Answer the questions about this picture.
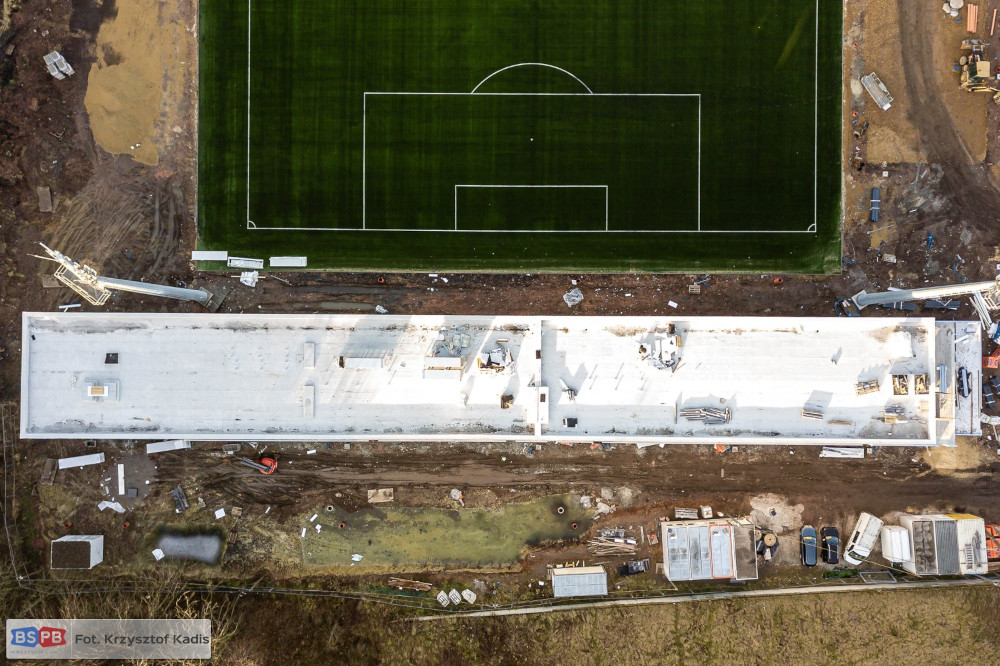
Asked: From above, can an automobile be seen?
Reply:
Yes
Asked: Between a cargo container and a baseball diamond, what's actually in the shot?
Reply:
cargo container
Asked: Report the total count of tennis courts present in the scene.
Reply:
0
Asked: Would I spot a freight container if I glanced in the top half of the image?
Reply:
No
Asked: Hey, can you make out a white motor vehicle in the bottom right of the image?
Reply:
Yes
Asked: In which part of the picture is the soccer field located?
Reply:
top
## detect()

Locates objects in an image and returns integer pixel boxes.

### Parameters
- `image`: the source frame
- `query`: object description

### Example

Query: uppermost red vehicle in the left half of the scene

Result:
[237,451,279,475]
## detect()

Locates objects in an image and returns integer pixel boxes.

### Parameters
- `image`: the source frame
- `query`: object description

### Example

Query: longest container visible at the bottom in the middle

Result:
[552,565,607,597]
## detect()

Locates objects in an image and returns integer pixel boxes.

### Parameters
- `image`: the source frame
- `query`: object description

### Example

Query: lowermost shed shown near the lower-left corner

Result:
[52,534,104,570]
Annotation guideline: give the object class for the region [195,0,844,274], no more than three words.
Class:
soccer field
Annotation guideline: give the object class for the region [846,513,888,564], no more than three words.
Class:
van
